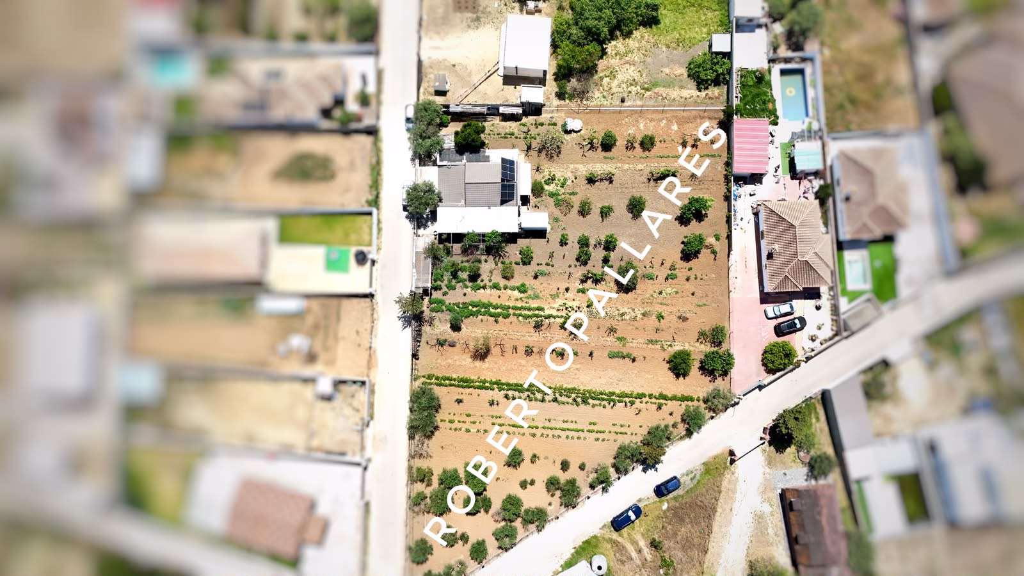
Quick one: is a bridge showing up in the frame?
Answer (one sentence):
No, I can see no bridge in this picture.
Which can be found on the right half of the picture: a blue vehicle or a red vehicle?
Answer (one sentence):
What appears on the right half of the picture is a blue vehicle.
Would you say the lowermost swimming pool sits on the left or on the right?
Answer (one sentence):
The lowermost swimming pool sits on the right side.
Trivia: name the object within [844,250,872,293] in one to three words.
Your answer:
swimming pool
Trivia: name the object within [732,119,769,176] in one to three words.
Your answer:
building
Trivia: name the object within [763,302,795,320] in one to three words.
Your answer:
car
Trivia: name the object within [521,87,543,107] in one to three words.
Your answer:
shed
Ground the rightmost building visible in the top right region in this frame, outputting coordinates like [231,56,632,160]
[940,37,1024,187]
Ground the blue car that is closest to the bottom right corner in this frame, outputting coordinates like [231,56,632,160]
[653,474,681,497]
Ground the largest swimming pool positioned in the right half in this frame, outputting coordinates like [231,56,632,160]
[772,61,817,131]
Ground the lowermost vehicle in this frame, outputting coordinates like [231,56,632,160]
[610,504,641,530]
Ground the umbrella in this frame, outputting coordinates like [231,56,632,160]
[355,250,369,264]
